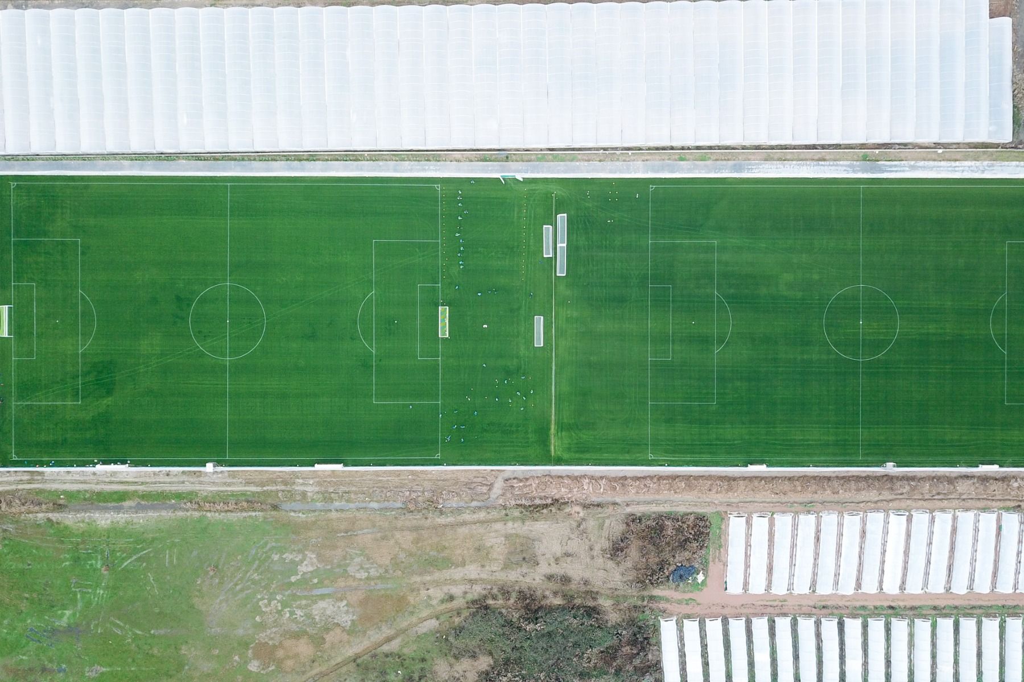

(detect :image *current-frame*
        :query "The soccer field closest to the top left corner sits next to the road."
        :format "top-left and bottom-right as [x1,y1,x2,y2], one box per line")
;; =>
[10,184,440,458]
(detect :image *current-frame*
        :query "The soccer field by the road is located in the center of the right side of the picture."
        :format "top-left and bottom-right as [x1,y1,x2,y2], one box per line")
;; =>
[649,186,1024,459]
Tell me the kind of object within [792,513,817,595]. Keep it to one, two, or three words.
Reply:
greenhouse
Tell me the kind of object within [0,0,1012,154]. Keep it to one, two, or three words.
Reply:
greenhouse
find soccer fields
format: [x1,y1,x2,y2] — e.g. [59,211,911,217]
[10,184,440,458]
[649,186,1024,459]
